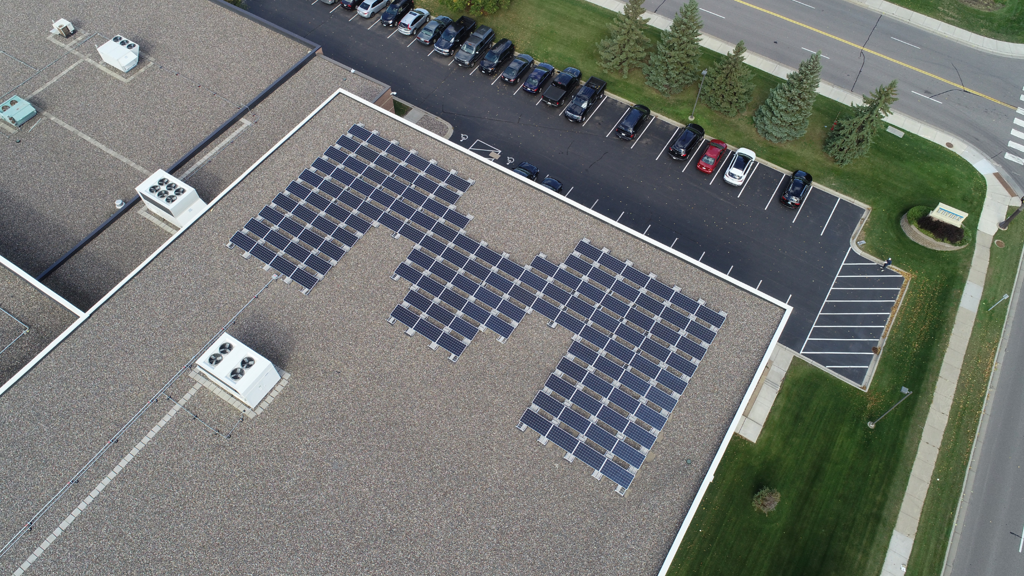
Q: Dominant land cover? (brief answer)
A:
buildings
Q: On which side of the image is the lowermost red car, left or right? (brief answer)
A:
right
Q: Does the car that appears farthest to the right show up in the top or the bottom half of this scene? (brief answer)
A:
top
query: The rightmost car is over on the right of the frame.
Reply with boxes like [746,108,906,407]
[778,166,812,206]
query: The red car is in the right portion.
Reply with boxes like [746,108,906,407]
[694,136,728,172]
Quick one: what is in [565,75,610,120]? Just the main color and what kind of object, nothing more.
black truck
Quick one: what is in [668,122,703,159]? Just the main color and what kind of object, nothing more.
black car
